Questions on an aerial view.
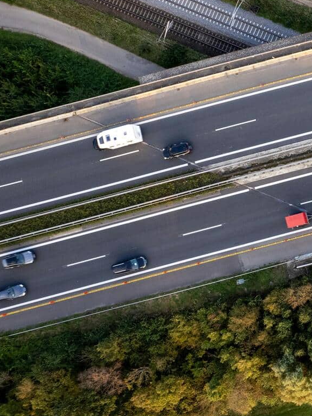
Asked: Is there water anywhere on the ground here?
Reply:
No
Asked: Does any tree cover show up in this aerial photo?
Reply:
Yes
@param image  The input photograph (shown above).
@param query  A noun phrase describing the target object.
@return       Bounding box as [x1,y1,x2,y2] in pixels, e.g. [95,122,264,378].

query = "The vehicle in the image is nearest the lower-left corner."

[0,283,28,302]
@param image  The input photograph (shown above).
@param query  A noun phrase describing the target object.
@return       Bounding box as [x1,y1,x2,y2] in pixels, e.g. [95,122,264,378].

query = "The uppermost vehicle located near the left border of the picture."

[2,249,37,269]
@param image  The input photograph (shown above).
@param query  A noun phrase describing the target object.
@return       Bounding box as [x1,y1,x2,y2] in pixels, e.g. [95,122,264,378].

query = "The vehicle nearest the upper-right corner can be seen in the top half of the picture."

[163,141,194,159]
